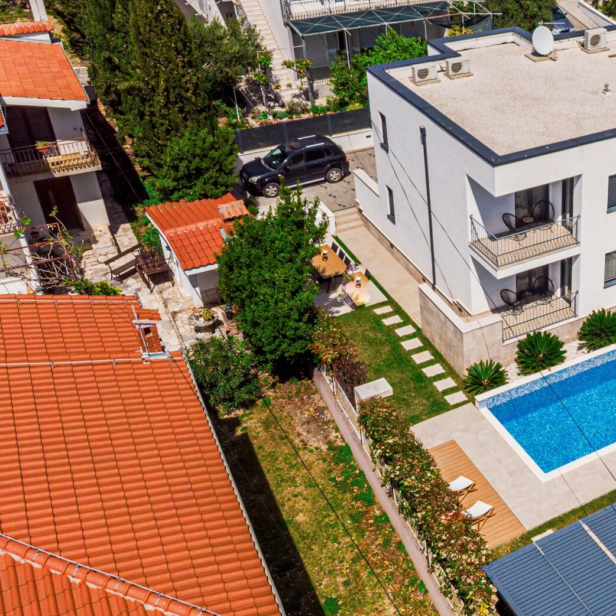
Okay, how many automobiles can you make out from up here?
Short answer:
2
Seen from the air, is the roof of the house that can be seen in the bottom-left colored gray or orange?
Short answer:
orange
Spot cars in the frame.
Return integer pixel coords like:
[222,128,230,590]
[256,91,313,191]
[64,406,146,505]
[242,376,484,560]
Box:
[533,4,581,33]
[238,129,349,194]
